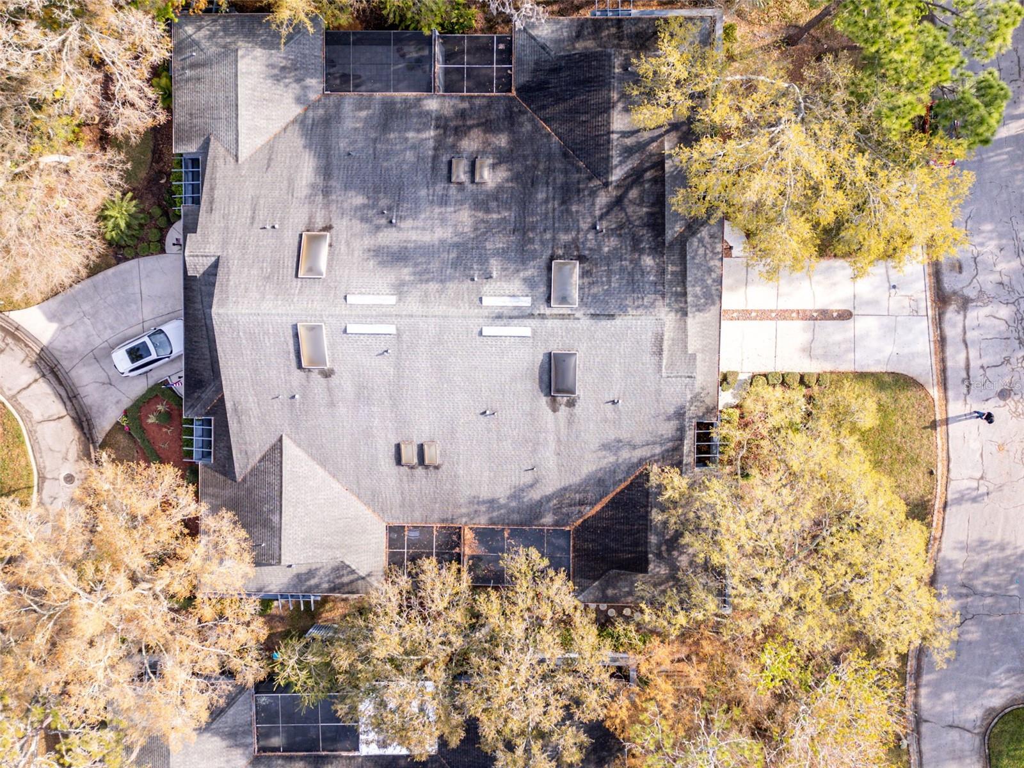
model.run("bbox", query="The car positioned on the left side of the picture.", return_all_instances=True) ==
[113,323,183,376]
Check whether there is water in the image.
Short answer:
No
